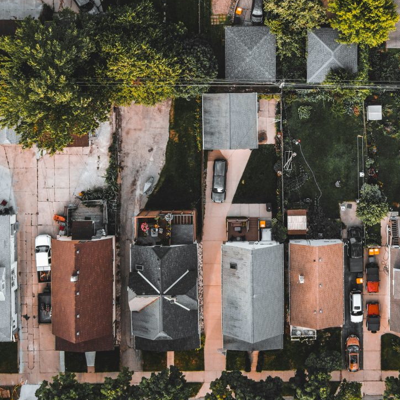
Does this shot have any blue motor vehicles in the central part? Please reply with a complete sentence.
No, the scene shows no blue motor vehicle in the central part.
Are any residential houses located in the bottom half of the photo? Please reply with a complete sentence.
Yes, there is a residential house in the bottom half of the photo.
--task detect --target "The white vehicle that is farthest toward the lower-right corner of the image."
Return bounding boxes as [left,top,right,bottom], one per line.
[349,291,366,326]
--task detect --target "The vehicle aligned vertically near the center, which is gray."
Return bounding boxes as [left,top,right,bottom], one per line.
[209,159,226,204]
